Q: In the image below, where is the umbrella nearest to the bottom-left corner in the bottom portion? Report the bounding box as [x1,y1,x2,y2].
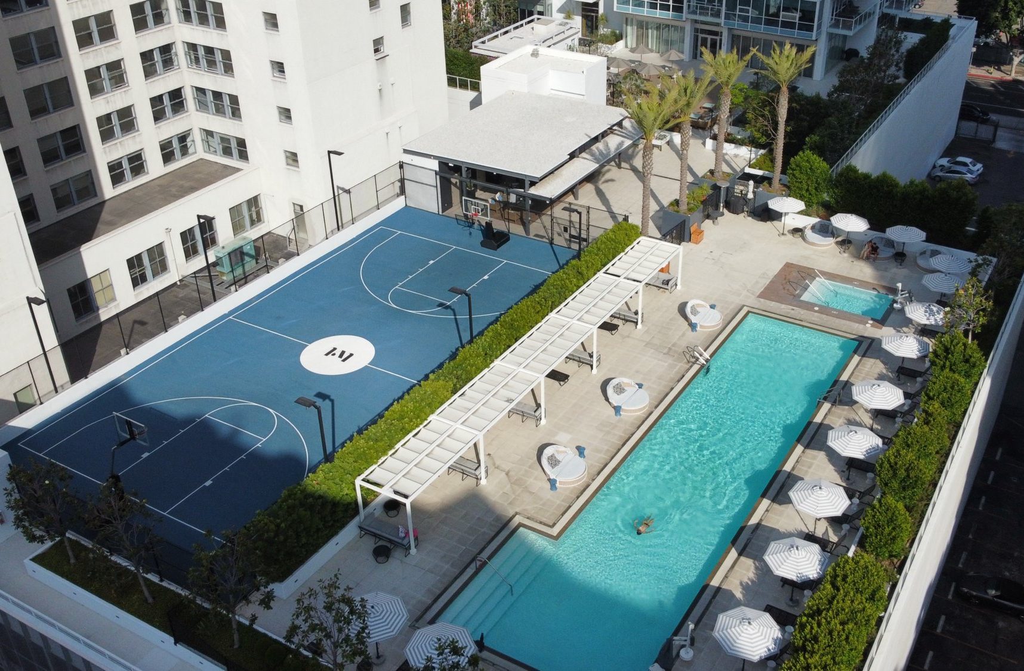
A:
[349,592,417,665]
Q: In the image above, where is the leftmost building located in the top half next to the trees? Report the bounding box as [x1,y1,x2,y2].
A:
[0,0,448,424]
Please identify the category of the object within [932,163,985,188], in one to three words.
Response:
car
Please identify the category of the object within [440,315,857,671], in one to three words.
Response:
swimming pool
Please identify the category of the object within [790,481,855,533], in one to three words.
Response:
umbrella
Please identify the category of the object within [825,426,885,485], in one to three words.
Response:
umbrella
